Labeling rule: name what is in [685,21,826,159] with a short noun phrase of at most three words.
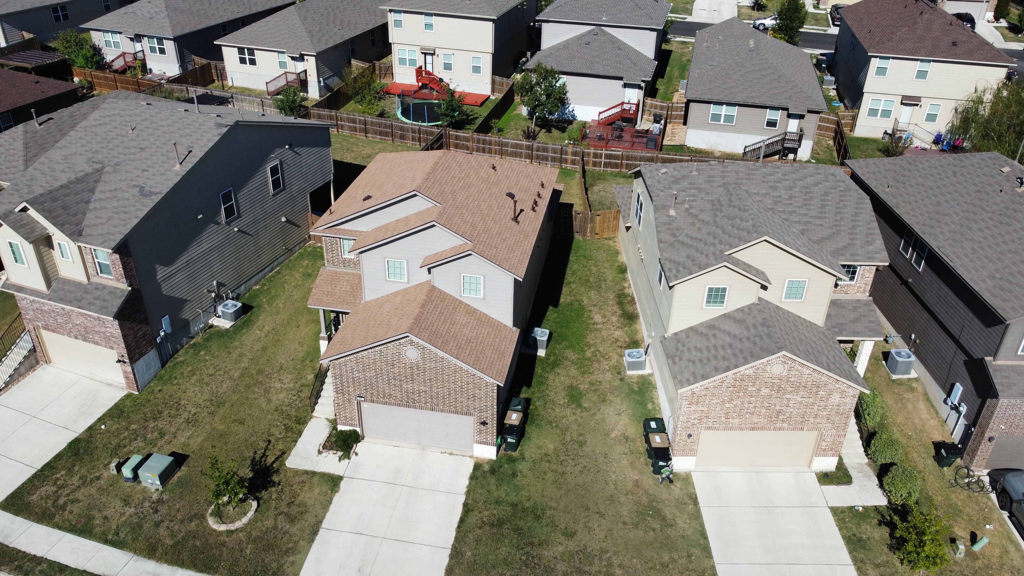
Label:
house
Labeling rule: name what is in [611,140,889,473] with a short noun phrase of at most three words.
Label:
house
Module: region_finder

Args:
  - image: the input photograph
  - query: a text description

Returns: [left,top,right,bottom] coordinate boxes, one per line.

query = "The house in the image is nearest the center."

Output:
[306,150,567,462]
